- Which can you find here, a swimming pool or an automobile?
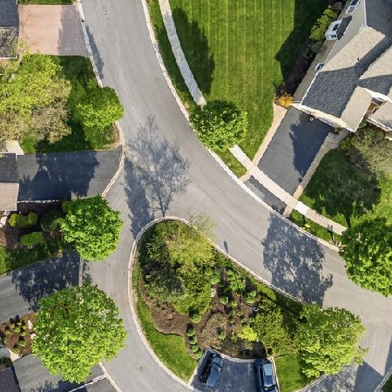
automobile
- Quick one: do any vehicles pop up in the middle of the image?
No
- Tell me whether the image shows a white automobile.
No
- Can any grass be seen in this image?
Yes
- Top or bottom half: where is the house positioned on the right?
top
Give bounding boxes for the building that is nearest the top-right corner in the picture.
[292,0,392,134]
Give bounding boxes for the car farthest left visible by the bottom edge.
[197,350,223,387]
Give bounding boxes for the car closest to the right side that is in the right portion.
[254,358,277,392]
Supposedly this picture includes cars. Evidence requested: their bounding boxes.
[254,358,277,392]
[197,350,223,387]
